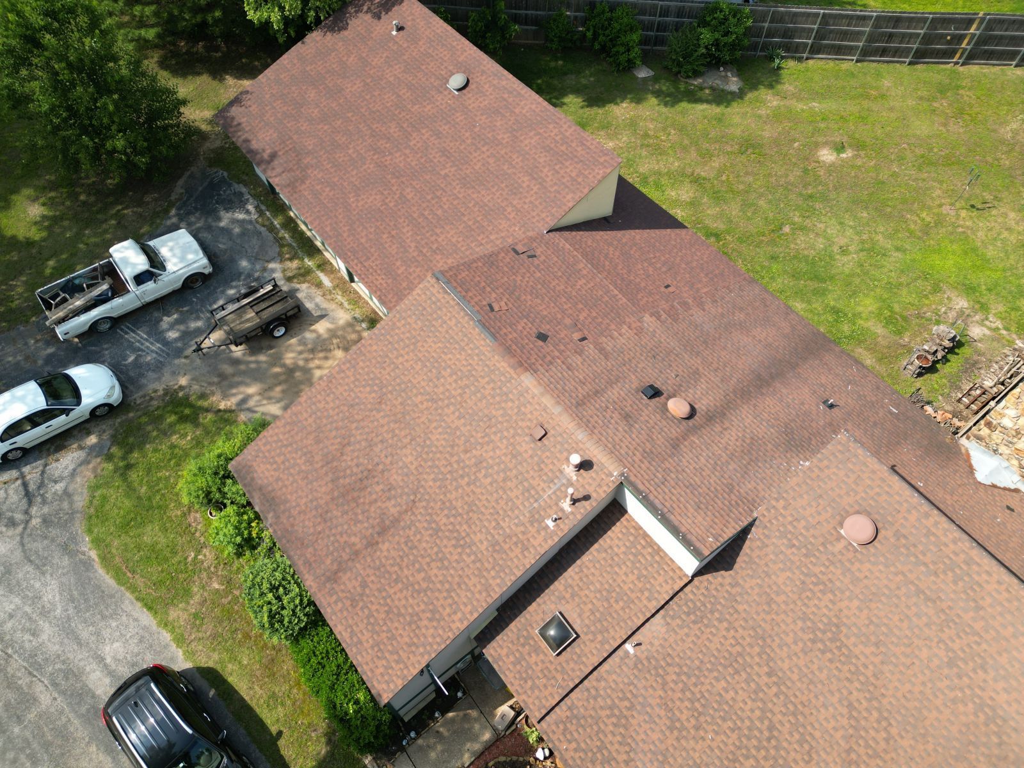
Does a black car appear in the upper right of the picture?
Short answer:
No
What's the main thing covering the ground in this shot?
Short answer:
buildings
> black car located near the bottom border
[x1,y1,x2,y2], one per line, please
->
[105,666,267,768]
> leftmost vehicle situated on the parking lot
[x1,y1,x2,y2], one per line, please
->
[0,362,121,467]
